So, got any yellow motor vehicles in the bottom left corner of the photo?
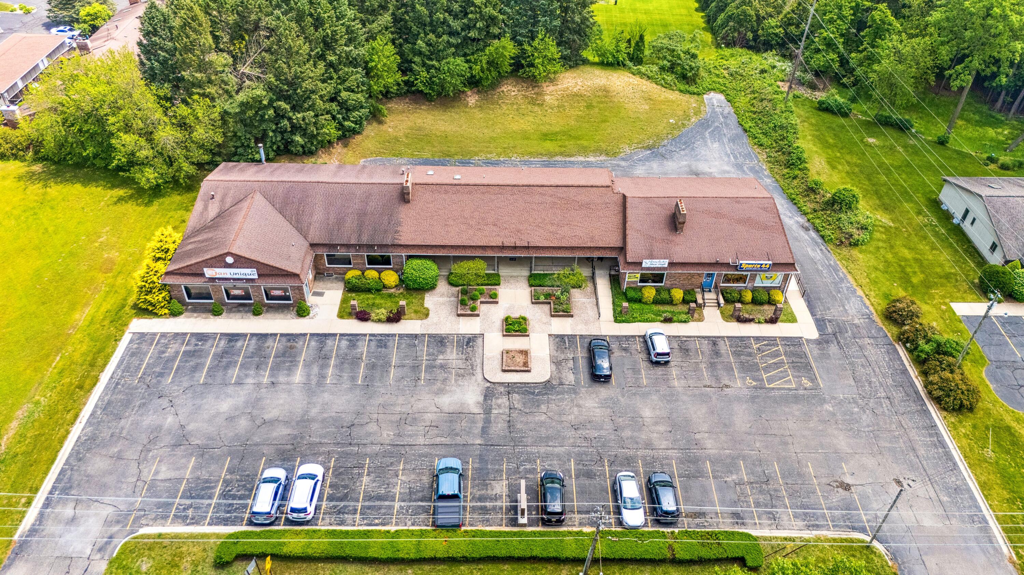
No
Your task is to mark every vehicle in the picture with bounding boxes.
[648,473,681,523]
[589,339,614,382]
[614,471,646,530]
[434,457,464,528]
[288,465,324,522]
[644,329,672,364]
[48,24,83,39]
[251,469,288,524]
[539,471,568,526]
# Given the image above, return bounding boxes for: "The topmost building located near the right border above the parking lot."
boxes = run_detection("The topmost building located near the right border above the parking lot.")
[938,175,1024,263]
